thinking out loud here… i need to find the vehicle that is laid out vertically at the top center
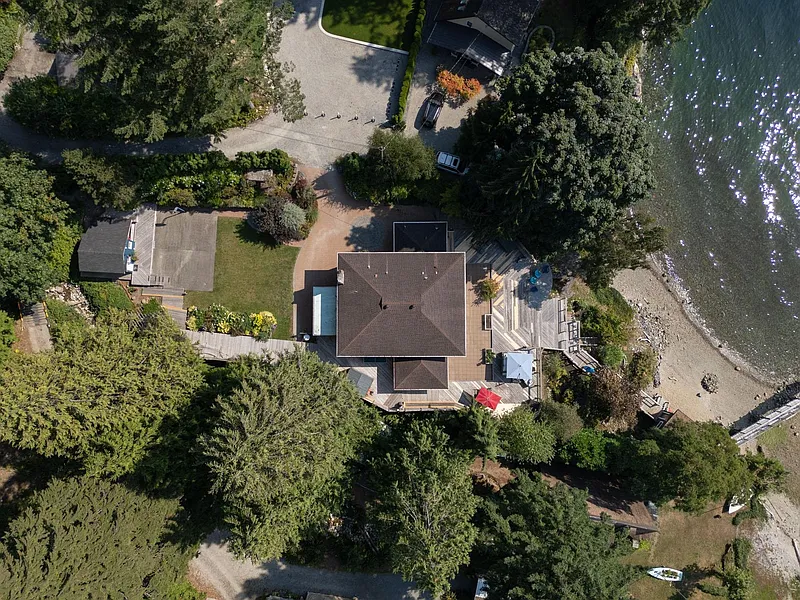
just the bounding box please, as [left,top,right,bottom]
[423,92,445,130]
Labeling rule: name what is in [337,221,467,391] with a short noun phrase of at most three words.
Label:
house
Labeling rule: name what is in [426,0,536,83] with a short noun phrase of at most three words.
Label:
house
